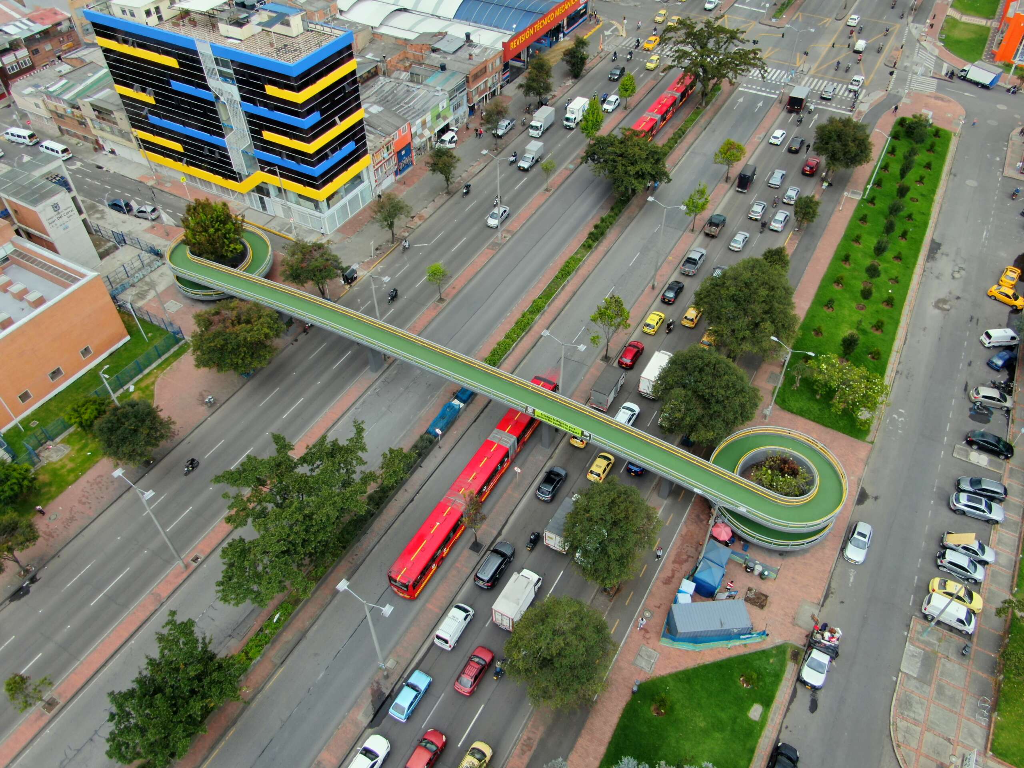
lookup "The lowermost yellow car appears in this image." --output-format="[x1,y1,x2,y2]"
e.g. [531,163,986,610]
[456,737,492,768]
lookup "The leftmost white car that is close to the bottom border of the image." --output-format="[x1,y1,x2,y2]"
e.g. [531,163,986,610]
[349,734,390,768]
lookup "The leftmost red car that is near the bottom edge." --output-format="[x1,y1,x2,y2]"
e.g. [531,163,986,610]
[401,727,445,768]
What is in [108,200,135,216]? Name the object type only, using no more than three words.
car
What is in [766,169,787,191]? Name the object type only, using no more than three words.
truck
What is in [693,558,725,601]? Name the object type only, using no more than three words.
tent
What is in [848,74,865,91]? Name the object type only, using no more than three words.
vehicle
